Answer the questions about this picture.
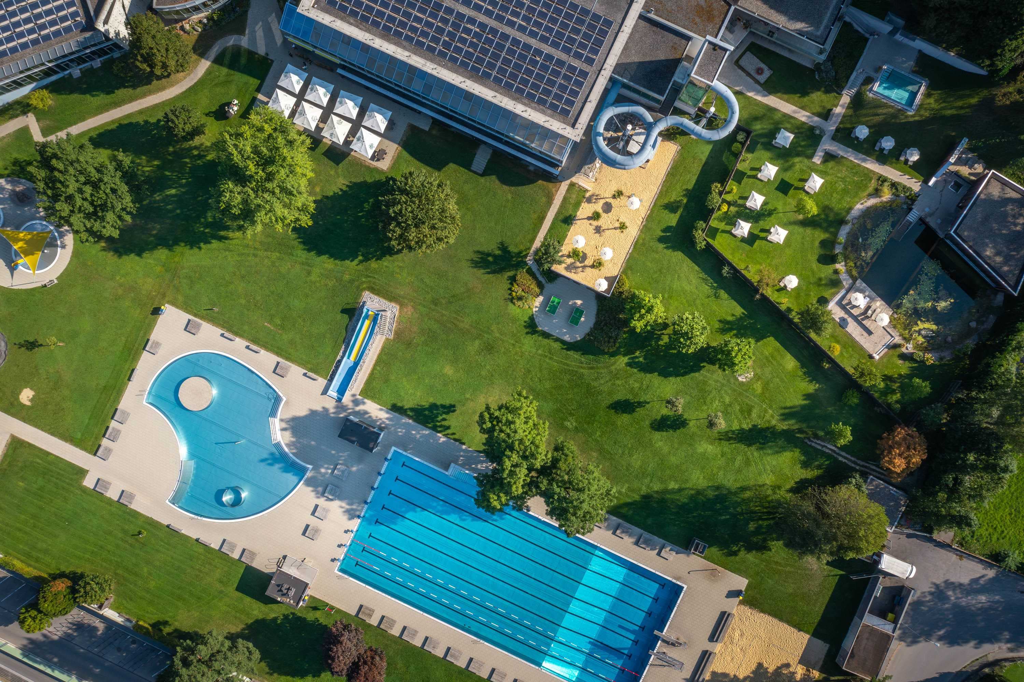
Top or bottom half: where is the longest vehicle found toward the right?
bottom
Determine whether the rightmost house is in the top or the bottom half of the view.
top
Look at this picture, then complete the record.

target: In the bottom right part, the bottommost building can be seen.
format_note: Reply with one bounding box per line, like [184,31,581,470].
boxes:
[835,571,914,680]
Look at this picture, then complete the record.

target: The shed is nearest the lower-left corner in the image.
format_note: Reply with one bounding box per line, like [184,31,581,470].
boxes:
[266,554,319,609]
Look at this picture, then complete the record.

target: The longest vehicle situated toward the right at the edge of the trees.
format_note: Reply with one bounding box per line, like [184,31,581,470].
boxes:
[873,552,914,579]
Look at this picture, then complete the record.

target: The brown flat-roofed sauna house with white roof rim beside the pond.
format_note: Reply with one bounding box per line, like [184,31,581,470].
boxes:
[936,170,1024,296]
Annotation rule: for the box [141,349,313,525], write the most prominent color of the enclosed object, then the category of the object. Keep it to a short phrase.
blue swimming pool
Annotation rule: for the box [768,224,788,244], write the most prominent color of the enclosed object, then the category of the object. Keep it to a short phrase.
white umbrella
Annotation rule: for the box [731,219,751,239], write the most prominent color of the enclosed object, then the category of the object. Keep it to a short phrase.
white umbrella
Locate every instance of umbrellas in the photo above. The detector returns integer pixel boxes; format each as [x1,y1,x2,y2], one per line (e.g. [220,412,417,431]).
[855,125,868,139]
[334,91,363,120]
[627,197,640,209]
[768,224,788,244]
[774,129,794,148]
[881,137,894,150]
[745,191,765,211]
[905,148,921,161]
[304,78,334,108]
[595,278,608,291]
[757,162,776,181]
[572,235,585,248]
[322,115,352,145]
[363,104,392,134]
[350,128,381,159]
[278,65,308,94]
[293,101,323,131]
[876,314,889,326]
[731,219,751,239]
[803,174,823,193]
[268,89,298,119]
[600,247,612,259]
[782,276,796,289]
